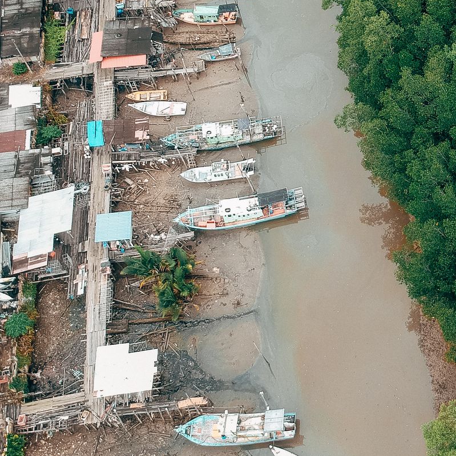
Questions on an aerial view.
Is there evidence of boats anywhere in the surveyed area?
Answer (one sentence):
Yes, there's a boat here.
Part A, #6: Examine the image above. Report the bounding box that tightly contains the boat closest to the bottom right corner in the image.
[267,442,301,456]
